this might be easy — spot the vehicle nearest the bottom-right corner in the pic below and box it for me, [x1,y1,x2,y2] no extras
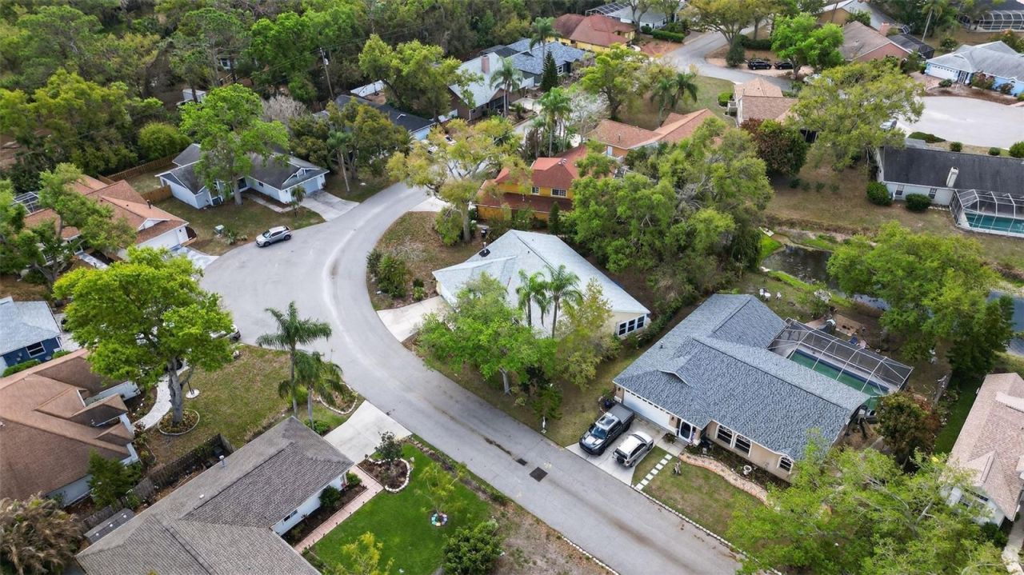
[611,421,658,462]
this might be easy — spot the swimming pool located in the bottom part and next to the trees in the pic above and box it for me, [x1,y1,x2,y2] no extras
[785,343,895,419]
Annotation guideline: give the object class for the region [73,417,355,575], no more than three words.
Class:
house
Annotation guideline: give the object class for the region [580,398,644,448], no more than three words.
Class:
truck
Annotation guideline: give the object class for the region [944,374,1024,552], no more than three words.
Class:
house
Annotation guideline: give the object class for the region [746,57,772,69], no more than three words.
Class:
vehicle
